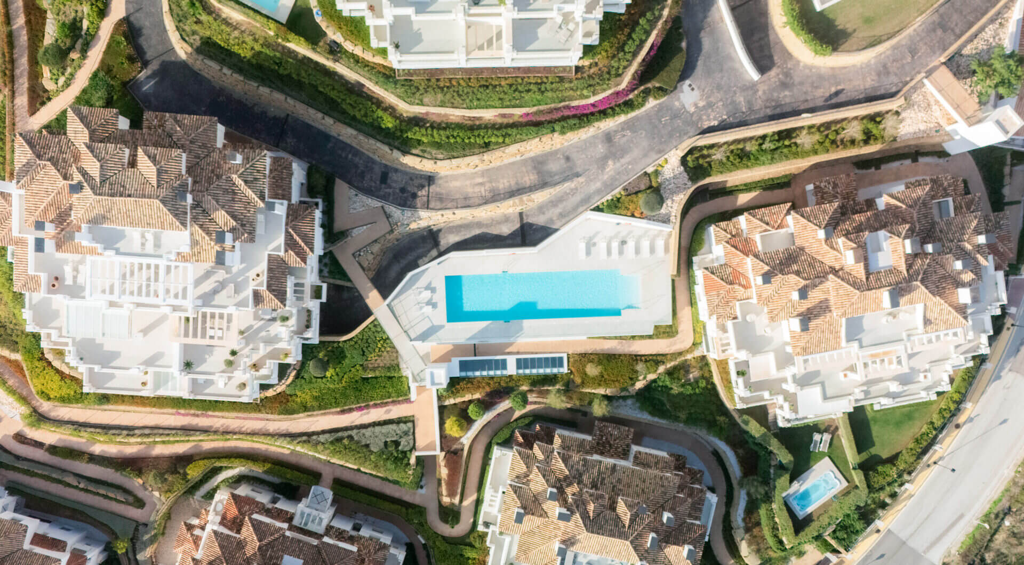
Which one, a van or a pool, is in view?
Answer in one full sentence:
There is a pool in the scene.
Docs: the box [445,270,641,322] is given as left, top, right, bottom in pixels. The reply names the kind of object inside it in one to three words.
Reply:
swimming pool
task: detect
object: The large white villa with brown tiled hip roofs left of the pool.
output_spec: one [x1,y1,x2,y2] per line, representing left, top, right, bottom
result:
[0,105,331,403]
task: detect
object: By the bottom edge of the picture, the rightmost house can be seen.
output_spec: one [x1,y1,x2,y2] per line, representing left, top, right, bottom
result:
[476,417,717,565]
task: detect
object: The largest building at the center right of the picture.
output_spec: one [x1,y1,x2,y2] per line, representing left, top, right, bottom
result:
[689,166,1021,428]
